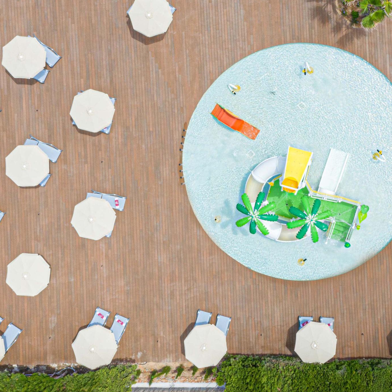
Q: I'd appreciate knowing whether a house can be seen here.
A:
No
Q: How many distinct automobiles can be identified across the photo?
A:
0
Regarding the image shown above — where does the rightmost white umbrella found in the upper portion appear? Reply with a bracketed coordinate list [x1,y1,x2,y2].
[130,0,175,39]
